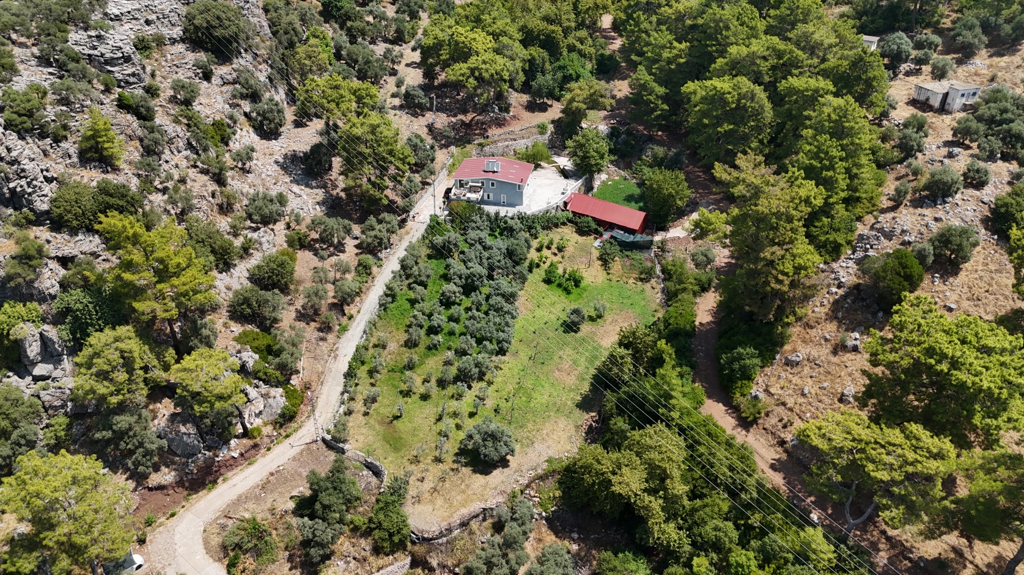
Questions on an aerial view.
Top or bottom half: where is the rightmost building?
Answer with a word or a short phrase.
top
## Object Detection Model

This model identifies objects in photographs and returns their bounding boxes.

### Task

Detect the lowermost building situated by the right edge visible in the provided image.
[910,81,981,117]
